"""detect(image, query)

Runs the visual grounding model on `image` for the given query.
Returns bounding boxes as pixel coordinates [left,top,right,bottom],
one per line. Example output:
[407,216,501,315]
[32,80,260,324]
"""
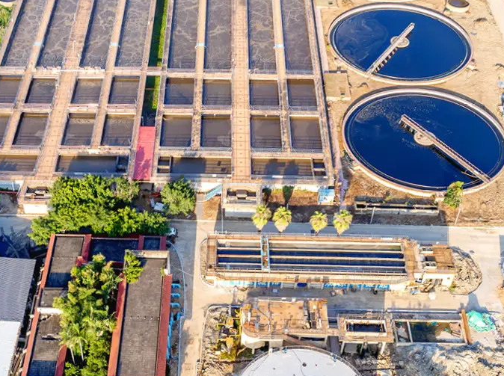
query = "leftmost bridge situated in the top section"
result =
[364,20,416,77]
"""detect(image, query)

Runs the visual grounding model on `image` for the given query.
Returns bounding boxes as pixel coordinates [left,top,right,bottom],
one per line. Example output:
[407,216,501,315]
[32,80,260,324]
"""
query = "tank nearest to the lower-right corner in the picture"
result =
[326,309,396,356]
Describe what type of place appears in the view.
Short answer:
industrial area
